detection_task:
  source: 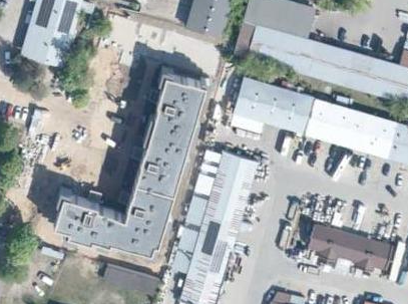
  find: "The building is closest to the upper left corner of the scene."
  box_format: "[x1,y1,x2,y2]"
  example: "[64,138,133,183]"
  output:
[28,106,45,137]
